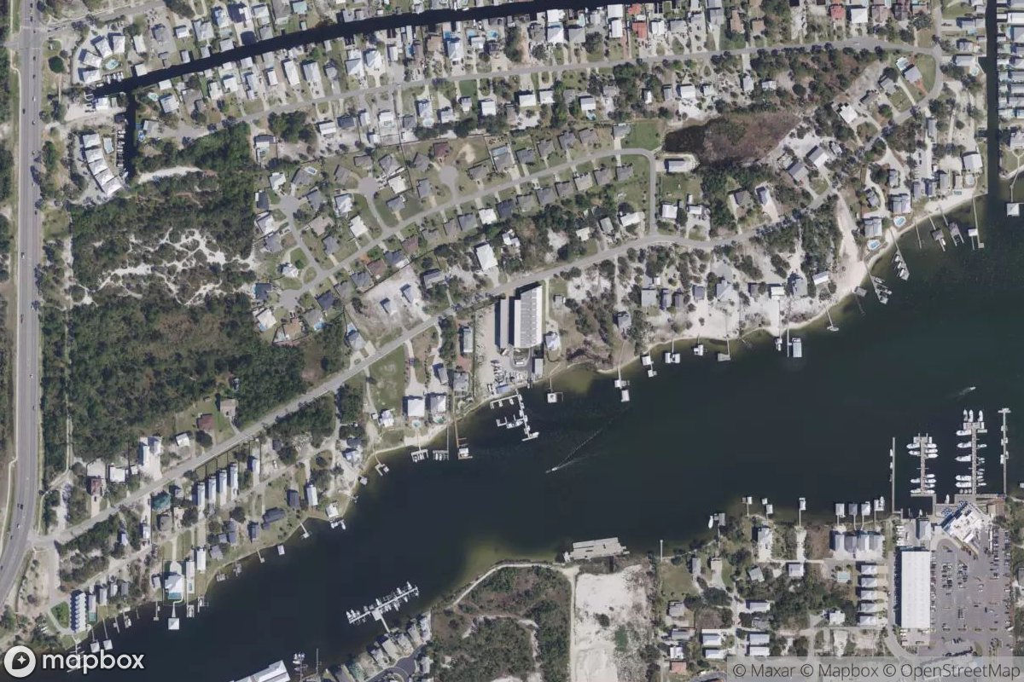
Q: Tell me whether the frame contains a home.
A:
Yes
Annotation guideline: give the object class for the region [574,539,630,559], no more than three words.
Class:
pier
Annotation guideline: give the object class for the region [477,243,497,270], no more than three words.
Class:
house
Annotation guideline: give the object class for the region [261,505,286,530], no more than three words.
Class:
house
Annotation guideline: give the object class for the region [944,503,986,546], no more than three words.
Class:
building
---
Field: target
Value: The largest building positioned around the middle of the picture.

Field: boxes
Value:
[514,285,542,347]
